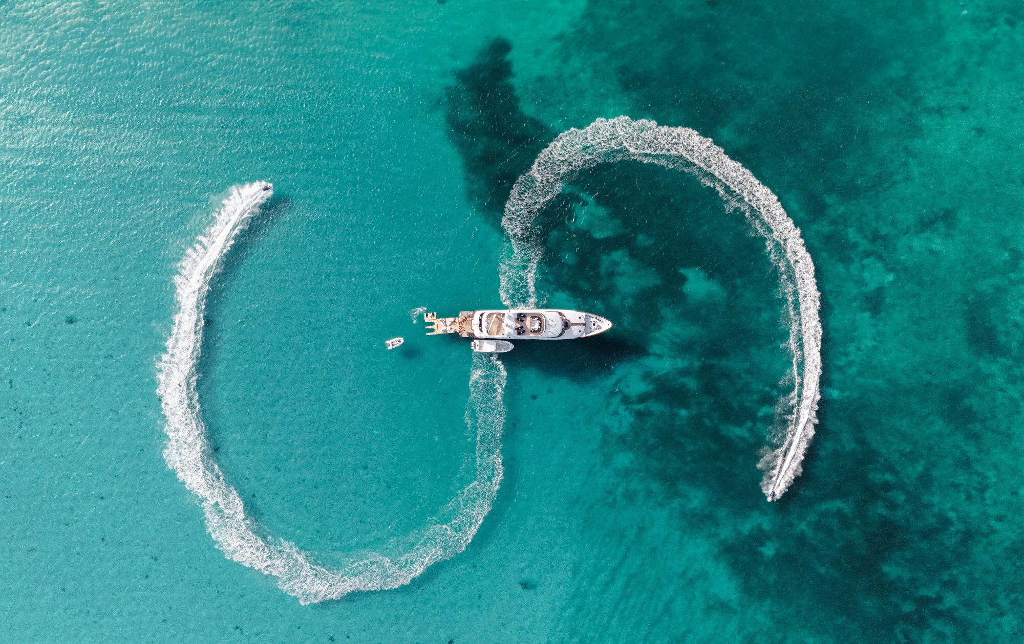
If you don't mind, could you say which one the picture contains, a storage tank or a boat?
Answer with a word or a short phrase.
boat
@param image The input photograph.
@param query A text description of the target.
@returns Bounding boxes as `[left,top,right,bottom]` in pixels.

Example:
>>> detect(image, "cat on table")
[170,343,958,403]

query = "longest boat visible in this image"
[459,309,613,340]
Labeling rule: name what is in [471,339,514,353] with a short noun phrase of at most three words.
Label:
boat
